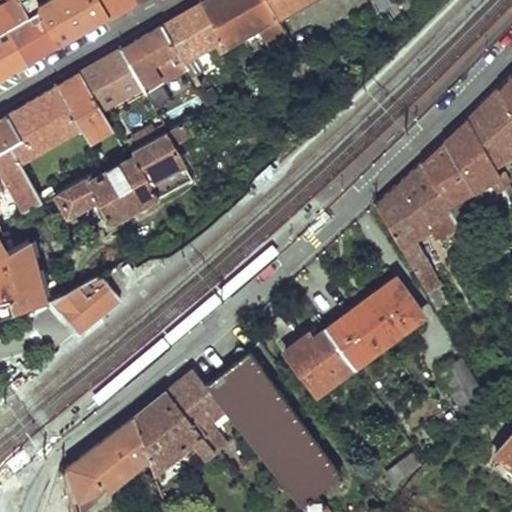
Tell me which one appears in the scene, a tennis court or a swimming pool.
swimming pool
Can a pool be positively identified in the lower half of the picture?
No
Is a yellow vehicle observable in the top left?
No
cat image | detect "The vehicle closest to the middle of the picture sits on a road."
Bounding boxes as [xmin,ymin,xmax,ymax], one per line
[258,261,280,282]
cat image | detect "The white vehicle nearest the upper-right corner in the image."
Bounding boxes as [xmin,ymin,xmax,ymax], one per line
[480,44,502,66]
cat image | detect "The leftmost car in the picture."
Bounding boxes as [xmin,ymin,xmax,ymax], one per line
[2,75,22,92]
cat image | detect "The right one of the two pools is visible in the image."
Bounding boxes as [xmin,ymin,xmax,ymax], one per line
[166,96,202,120]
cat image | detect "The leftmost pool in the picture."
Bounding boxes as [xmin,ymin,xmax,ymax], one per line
[126,112,142,126]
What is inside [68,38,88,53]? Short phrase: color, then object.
white car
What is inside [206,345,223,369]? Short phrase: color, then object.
white vehicle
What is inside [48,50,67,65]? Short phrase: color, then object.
white car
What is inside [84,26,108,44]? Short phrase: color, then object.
white vehicle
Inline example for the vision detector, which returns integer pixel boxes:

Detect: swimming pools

[166,96,202,120]
[126,112,142,126]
